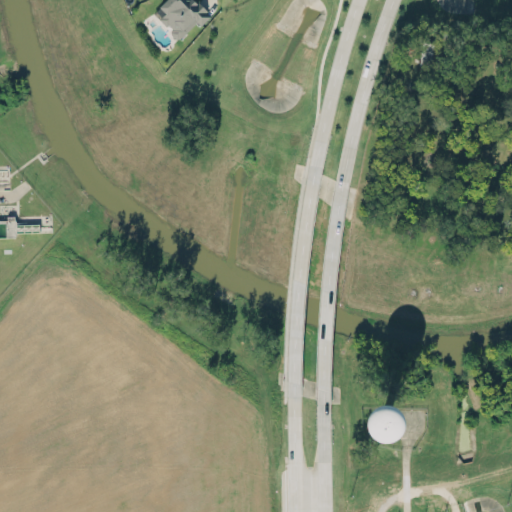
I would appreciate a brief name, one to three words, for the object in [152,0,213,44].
house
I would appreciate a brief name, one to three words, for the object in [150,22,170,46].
swimming pool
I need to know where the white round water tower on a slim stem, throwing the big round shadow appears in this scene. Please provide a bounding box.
[368,404,406,444]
